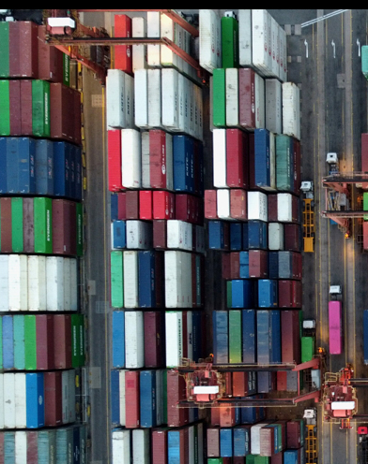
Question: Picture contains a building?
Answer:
No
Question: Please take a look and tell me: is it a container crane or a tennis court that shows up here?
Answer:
container crane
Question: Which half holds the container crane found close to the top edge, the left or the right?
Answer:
left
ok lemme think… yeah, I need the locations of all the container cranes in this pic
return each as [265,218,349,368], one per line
[167,346,327,410]
[315,360,368,427]
[313,167,368,241]
[32,0,208,90]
